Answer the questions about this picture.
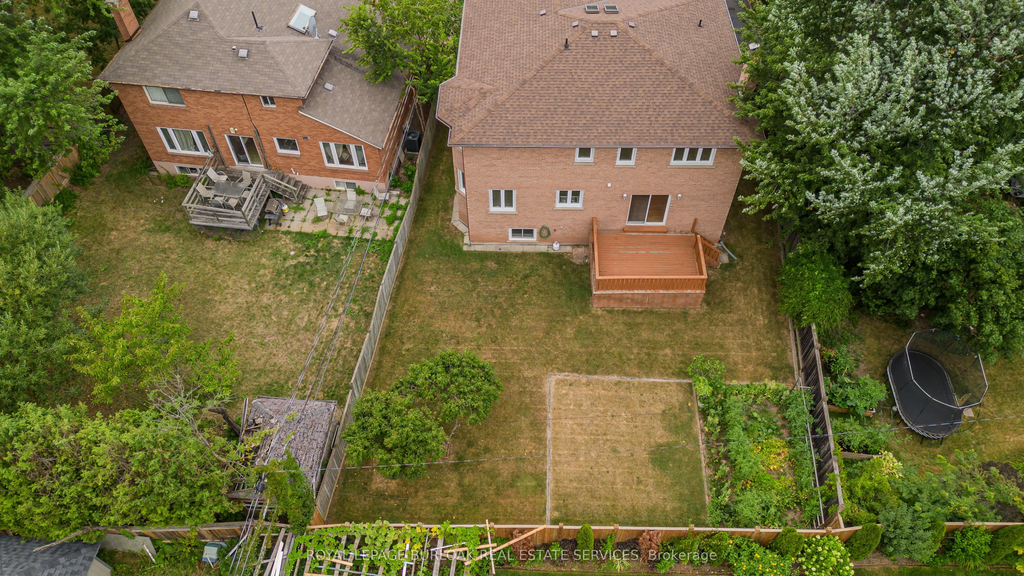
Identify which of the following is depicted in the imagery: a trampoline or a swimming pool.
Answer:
trampoline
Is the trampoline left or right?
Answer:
right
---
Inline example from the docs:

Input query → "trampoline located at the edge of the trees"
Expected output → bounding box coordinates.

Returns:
[876,330,991,447]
